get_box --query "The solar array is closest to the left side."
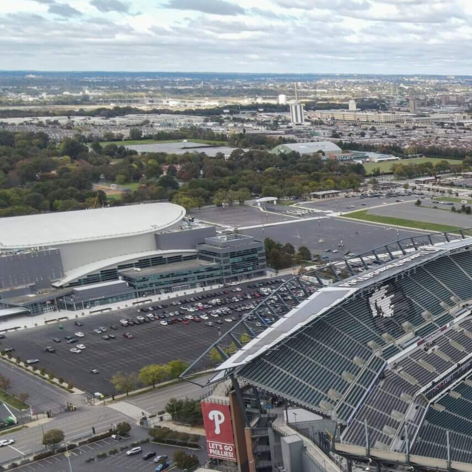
[227,292,343,363]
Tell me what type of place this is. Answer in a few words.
sports ground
